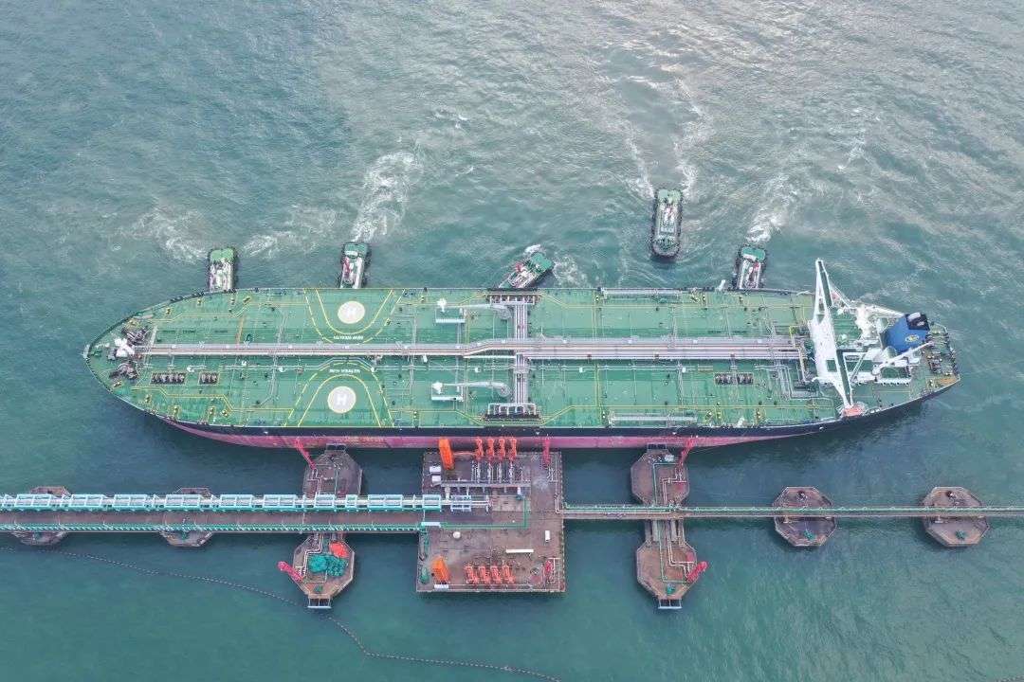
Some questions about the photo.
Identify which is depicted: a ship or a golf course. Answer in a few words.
ship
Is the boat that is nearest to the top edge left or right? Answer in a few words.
right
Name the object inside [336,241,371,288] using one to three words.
boat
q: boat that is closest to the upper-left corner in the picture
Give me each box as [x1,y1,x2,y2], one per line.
[204,248,238,291]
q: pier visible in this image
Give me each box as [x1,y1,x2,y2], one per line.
[0,494,430,535]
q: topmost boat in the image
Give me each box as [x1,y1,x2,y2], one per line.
[649,188,683,259]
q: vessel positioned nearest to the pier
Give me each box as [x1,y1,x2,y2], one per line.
[79,257,961,450]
